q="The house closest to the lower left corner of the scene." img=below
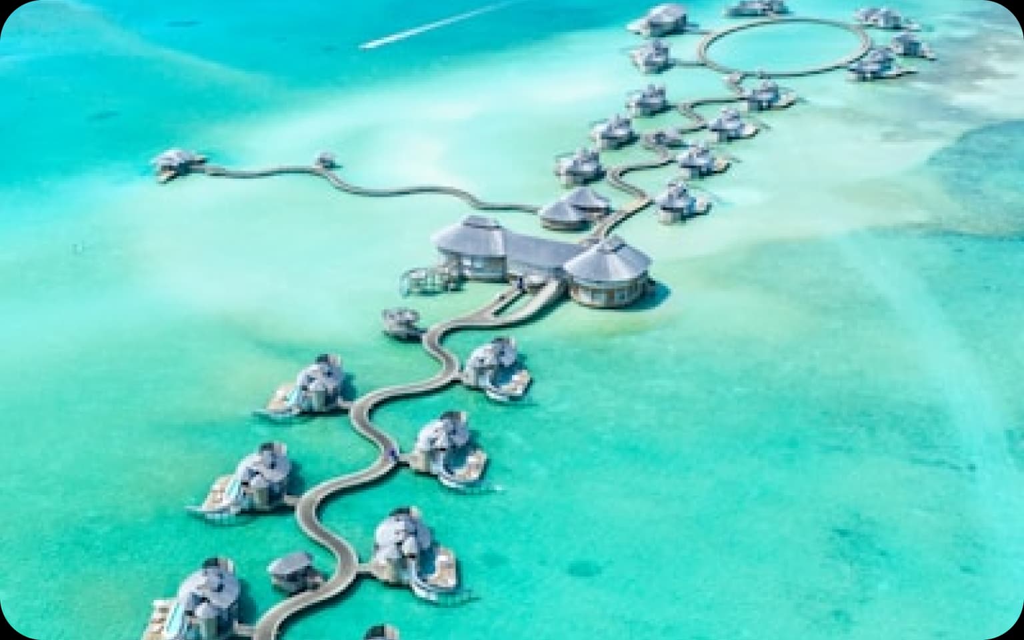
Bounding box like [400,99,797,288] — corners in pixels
[145,556,249,640]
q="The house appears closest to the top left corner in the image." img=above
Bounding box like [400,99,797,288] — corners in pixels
[145,152,219,189]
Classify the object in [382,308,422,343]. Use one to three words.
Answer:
building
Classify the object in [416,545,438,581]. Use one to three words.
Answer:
swimming pool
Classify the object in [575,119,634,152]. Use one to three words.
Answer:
house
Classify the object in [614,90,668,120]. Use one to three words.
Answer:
house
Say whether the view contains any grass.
No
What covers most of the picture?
water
